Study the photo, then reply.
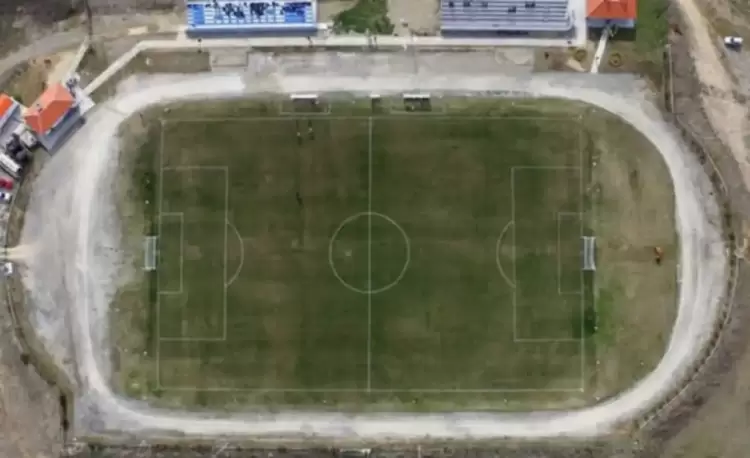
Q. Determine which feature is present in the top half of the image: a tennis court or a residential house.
residential house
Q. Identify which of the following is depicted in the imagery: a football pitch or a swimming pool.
football pitch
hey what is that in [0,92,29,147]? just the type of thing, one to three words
house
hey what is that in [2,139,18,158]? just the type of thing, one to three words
car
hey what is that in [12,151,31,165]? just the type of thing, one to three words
vehicle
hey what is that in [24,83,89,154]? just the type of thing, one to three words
house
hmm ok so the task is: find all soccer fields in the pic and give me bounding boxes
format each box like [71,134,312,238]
[155,112,587,396]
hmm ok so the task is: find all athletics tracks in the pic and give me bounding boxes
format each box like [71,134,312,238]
[71,76,721,440]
